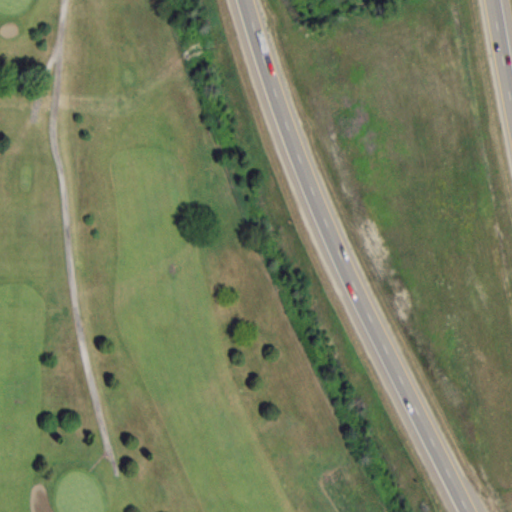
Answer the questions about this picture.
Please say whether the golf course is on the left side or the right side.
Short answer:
left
